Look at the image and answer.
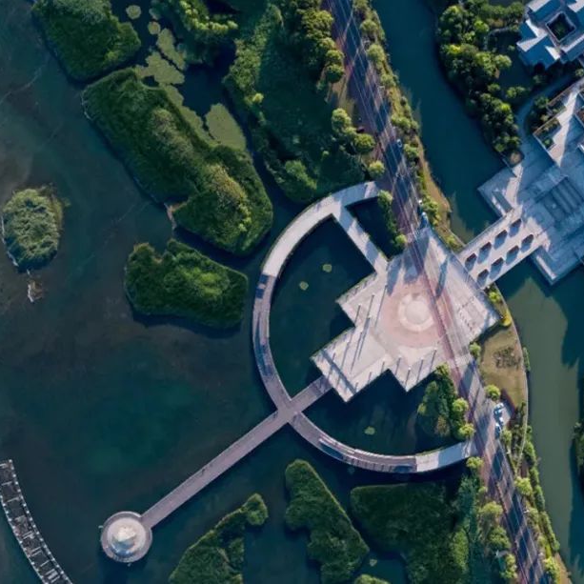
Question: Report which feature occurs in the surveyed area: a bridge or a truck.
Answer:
bridge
